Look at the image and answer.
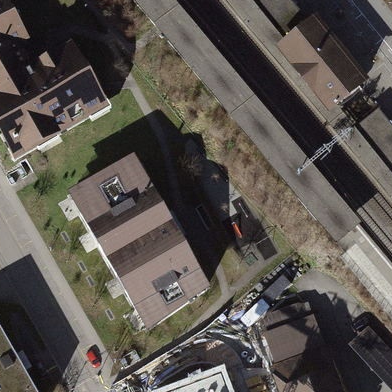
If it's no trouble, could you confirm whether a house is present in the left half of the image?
Yes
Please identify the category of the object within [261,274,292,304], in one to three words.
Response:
building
